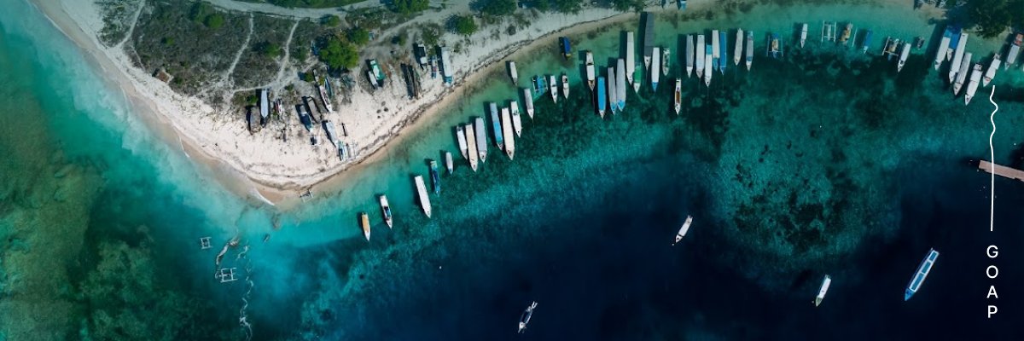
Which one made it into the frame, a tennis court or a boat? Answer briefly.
boat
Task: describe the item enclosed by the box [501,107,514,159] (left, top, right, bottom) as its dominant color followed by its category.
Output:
white boat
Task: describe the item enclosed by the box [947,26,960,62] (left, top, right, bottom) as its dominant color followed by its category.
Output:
blue boat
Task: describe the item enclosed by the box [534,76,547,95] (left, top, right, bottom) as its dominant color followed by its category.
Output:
blue boat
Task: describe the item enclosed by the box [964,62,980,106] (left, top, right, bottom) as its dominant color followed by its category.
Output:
white boat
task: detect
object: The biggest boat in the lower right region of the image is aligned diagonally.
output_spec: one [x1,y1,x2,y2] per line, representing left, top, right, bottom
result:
[904,249,938,301]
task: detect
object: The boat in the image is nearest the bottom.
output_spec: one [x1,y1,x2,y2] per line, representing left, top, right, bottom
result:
[518,301,537,335]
